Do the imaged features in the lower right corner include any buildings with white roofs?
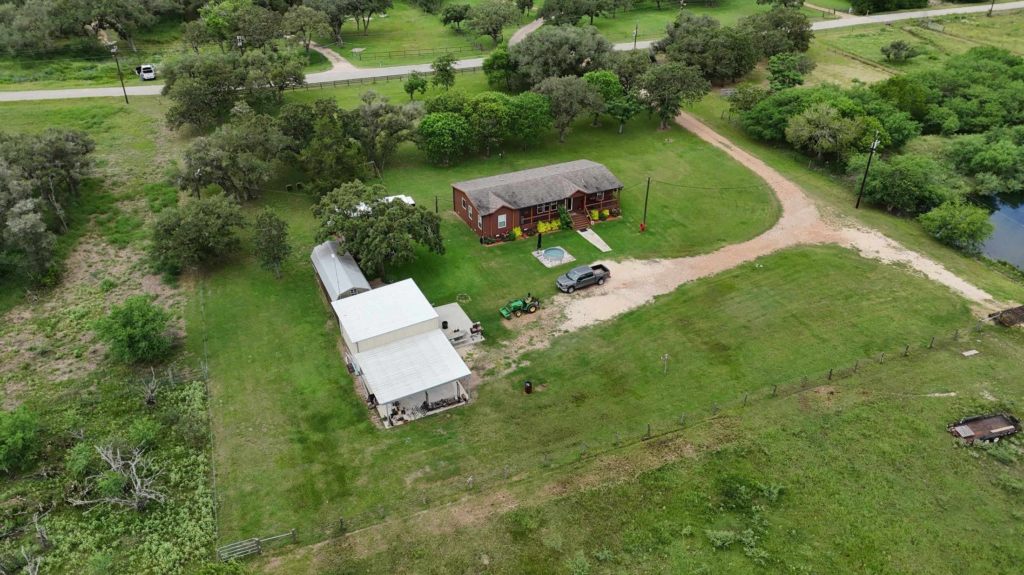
No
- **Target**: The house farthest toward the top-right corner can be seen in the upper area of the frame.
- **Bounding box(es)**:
[449,159,626,243]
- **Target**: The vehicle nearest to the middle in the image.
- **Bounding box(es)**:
[500,290,545,321]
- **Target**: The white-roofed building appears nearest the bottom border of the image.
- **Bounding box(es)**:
[330,279,472,430]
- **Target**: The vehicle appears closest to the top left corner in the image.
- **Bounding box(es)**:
[138,65,157,79]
